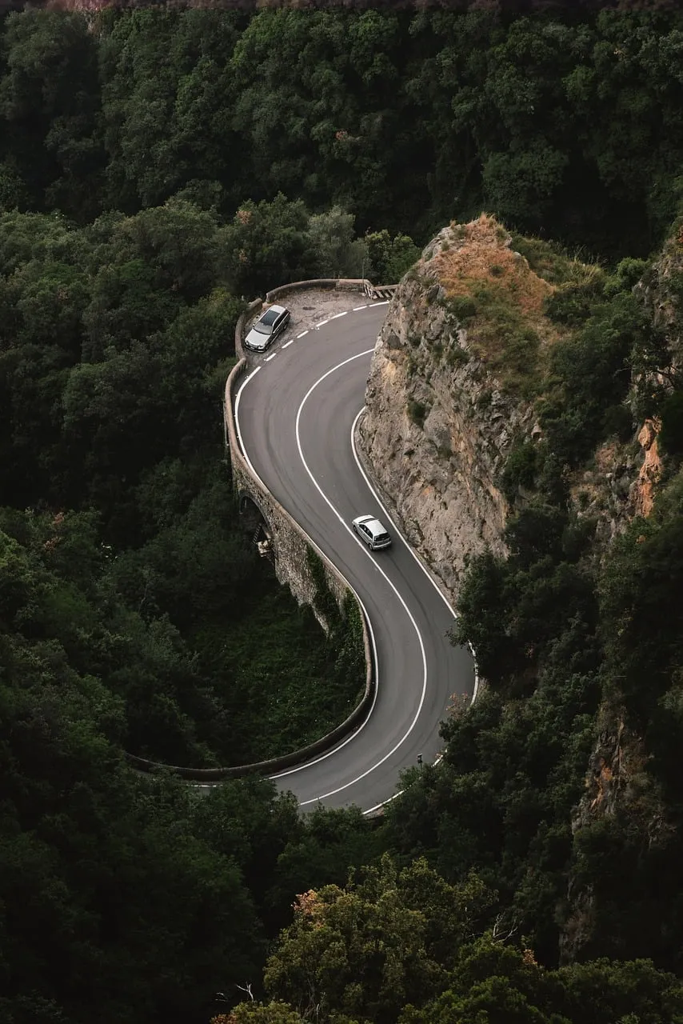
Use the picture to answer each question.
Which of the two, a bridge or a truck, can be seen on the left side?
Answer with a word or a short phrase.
bridge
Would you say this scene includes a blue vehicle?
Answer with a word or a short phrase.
No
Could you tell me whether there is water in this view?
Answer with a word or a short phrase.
No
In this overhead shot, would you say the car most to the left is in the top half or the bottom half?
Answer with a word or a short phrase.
top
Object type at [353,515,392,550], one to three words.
car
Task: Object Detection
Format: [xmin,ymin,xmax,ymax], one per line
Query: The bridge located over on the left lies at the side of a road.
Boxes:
[100,358,372,782]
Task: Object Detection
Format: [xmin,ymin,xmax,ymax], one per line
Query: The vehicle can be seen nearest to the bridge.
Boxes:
[245,308,290,350]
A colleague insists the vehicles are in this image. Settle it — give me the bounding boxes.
[245,308,290,350]
[353,515,392,550]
